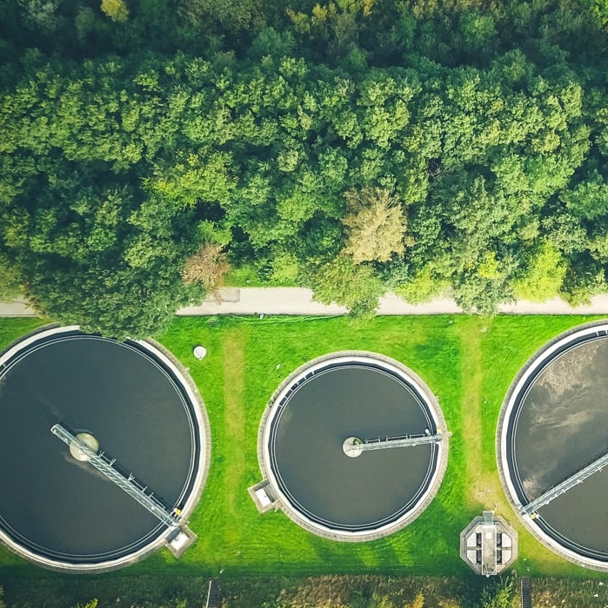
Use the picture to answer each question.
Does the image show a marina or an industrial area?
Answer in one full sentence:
It's an industrial area.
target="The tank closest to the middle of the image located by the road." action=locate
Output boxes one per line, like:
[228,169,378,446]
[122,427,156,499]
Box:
[248,351,449,542]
